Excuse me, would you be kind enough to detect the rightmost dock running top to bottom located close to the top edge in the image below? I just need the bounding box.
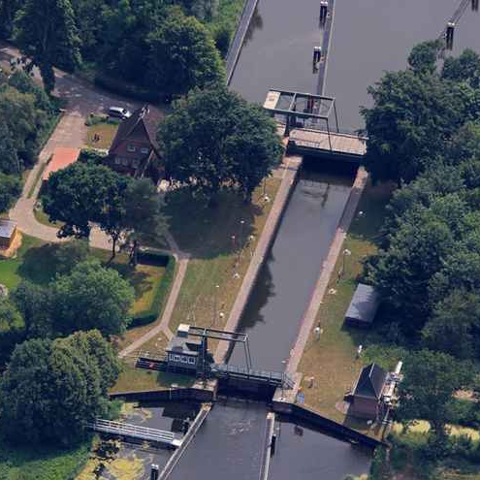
[312,0,335,125]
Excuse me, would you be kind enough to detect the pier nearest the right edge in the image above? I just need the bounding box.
[431,0,475,52]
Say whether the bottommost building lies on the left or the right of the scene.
right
